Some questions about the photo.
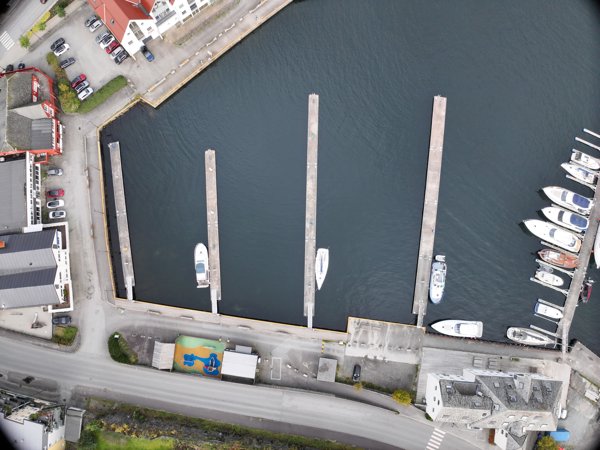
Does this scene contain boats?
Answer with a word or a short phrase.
Yes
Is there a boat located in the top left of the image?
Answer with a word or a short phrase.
No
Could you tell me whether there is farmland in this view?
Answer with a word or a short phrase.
No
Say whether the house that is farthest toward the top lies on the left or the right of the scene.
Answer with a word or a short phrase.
left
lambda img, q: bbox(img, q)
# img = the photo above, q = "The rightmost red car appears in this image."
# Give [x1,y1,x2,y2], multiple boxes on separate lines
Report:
[104,40,120,54]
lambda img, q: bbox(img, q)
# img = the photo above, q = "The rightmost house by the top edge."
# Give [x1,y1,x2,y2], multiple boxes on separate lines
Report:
[84,0,214,59]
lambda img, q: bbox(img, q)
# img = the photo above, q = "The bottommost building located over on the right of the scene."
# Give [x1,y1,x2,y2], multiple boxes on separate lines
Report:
[424,369,562,450]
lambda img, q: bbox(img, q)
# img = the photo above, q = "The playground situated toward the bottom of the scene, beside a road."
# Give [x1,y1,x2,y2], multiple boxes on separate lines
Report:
[173,336,226,380]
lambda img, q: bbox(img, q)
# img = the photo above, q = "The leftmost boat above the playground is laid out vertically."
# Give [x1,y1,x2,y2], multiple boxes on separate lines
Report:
[195,243,212,290]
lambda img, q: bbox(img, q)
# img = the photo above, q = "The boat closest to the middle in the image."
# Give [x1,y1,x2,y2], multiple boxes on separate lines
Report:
[312,248,329,289]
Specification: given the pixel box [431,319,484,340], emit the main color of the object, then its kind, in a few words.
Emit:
white boat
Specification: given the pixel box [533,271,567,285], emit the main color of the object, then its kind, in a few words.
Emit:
white boat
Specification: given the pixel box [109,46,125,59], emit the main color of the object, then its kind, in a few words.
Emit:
white vehicle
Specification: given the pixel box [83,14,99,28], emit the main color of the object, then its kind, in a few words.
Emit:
gray car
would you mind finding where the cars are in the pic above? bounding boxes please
[49,37,66,51]
[87,19,104,33]
[46,200,65,208]
[104,40,120,54]
[48,210,67,219]
[53,316,73,325]
[98,35,116,49]
[94,30,111,44]
[109,46,125,59]
[16,63,26,70]
[83,14,99,28]
[70,73,87,87]
[4,64,15,71]
[142,49,155,61]
[352,363,362,381]
[53,43,70,57]
[46,189,65,197]
[74,80,90,94]
[114,50,130,64]
[77,87,94,101]
[59,56,76,69]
